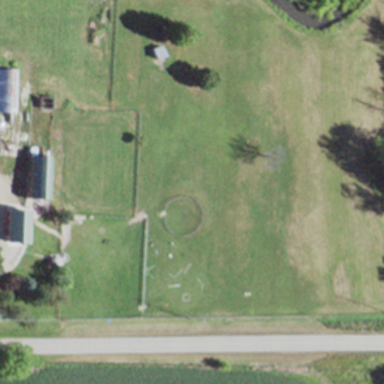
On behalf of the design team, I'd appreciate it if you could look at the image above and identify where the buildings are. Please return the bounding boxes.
[29,150,52,200]
[8,206,32,244]
[0,67,21,114]
[40,96,54,108]
[151,45,170,60]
